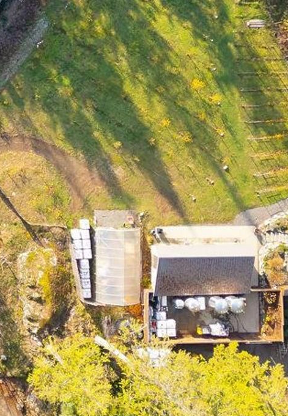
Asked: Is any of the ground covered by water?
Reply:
No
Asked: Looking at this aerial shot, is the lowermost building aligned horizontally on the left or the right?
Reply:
right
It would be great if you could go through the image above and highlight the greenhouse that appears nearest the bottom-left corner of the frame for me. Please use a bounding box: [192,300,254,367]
[98,229,142,307]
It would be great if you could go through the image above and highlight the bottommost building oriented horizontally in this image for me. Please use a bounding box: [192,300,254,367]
[145,242,258,297]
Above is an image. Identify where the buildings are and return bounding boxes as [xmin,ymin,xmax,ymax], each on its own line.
[145,242,258,297]
[98,229,142,307]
